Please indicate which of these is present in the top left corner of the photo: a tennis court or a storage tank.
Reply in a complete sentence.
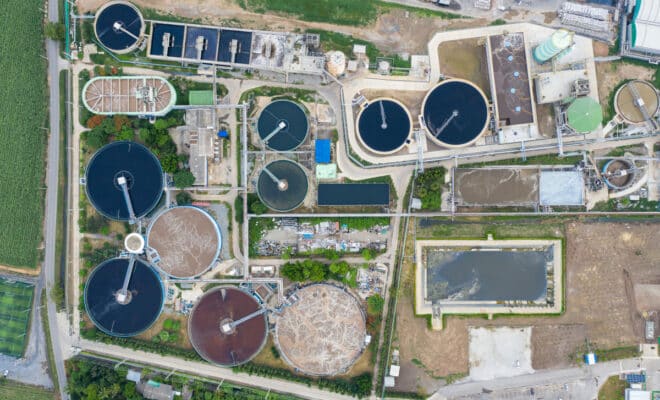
There is a storage tank in the top left corner of the photo.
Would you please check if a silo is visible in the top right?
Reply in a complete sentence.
Yes, I can see a silo in the top right.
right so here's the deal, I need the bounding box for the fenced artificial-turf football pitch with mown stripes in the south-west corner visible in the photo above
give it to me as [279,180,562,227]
[0,280,34,361]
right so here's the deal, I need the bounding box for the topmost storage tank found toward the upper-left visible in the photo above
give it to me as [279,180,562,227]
[93,1,147,54]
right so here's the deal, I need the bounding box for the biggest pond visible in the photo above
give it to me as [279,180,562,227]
[415,233,563,330]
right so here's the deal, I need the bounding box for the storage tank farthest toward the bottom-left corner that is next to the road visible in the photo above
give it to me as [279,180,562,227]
[84,256,168,338]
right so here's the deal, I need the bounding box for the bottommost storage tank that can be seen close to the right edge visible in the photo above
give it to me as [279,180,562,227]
[600,160,648,189]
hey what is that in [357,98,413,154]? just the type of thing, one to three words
storage tank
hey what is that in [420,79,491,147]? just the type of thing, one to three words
storage tank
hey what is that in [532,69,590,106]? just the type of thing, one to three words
building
